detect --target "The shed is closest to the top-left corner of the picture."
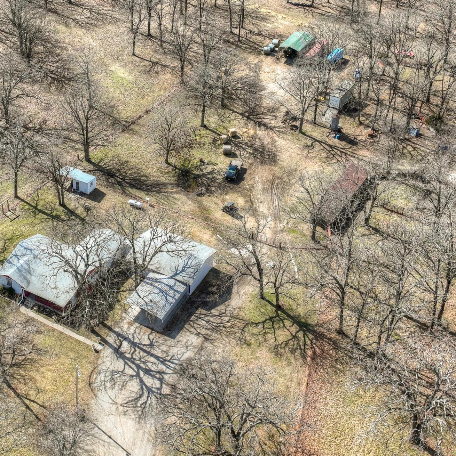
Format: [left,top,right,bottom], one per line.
[57,166,97,195]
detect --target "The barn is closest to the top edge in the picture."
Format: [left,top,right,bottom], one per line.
[280,26,317,57]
